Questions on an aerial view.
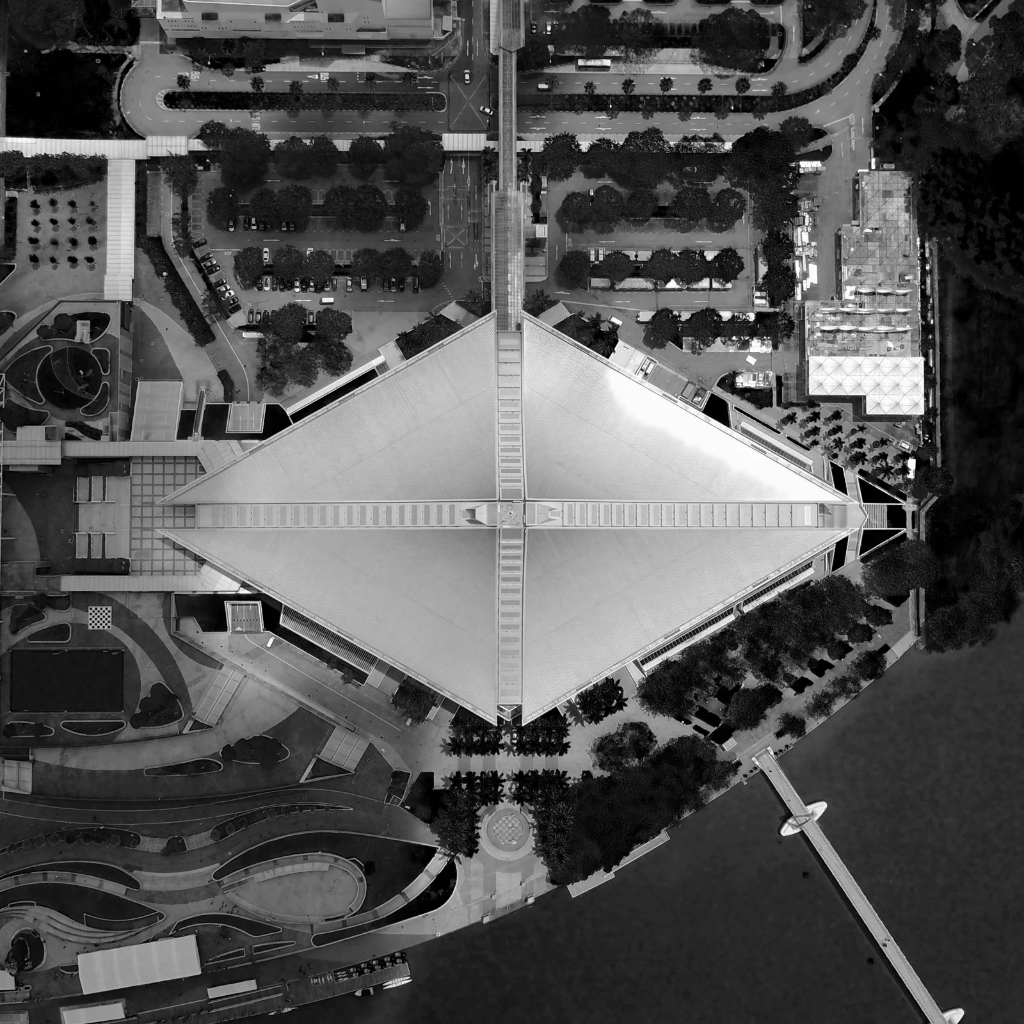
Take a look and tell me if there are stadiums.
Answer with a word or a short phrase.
Yes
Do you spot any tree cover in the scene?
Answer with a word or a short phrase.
Yes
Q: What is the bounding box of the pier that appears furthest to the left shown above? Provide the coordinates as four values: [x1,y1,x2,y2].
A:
[203,959,411,1024]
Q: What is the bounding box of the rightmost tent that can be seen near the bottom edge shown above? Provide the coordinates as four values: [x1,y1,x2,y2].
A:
[207,977,257,999]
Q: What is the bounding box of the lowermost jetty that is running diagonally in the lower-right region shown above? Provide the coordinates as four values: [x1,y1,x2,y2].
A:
[777,798,827,833]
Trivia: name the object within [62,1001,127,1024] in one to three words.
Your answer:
tent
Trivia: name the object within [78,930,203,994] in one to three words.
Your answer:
tent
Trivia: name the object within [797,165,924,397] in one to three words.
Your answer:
building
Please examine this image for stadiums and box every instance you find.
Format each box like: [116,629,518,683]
[156,311,869,726]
